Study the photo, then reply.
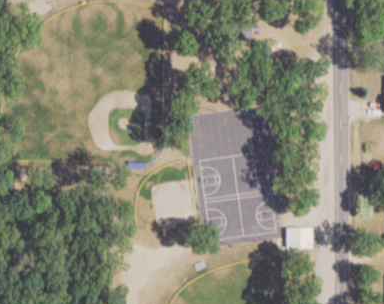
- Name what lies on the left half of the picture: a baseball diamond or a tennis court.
baseball diamond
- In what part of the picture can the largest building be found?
bottom right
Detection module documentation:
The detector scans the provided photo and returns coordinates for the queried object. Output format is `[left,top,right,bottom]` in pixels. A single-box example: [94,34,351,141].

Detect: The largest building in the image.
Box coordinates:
[286,228,314,250]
